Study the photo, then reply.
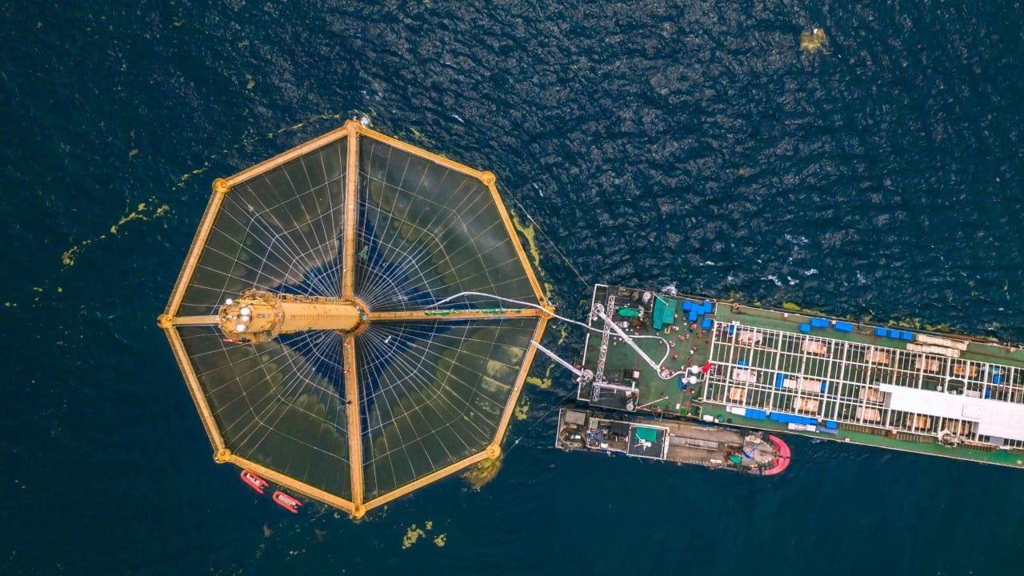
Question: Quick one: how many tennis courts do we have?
zero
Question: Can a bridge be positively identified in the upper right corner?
No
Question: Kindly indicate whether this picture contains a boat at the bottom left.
Yes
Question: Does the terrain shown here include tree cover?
No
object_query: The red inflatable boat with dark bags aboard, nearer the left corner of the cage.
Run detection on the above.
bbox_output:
[241,470,270,493]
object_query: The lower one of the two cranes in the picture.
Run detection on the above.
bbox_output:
[531,340,597,384]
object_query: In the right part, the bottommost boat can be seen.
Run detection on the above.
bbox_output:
[555,409,792,473]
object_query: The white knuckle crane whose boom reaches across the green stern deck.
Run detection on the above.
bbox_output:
[593,303,661,373]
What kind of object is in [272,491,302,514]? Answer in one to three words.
boat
